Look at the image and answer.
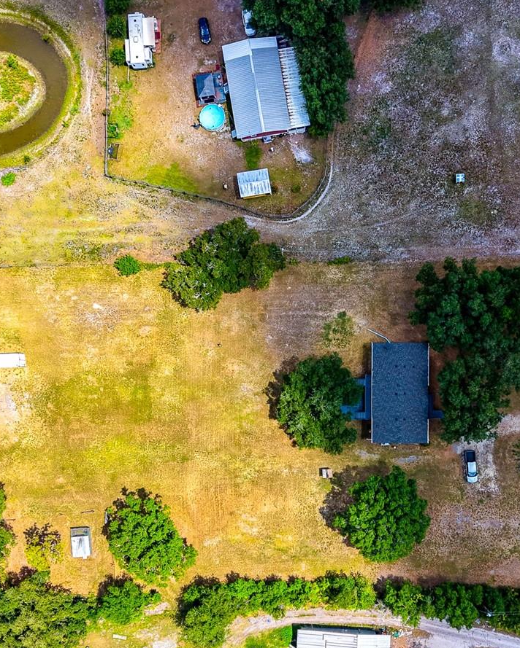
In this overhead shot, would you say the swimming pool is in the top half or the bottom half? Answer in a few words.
top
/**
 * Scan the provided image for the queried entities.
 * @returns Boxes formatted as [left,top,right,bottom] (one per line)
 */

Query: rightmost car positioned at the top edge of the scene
[242,10,255,36]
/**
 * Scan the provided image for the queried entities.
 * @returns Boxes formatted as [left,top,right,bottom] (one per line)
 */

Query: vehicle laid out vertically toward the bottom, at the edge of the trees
[463,450,476,483]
